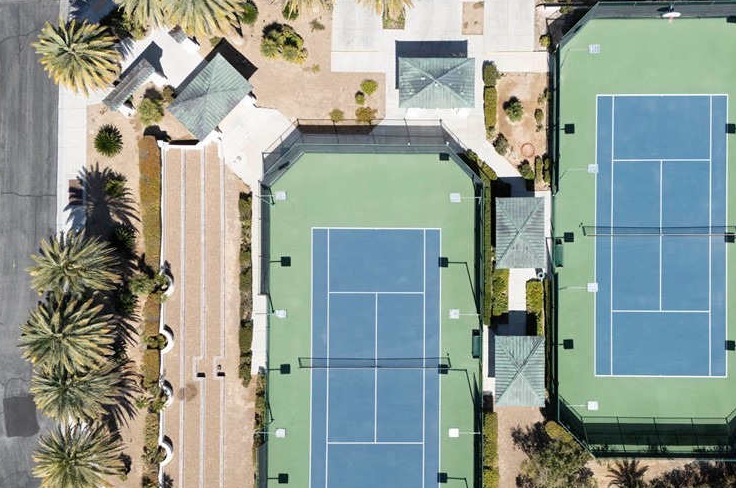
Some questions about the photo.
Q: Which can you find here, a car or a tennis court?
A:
tennis court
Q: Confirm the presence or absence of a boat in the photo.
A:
No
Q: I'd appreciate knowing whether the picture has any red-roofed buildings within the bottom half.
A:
No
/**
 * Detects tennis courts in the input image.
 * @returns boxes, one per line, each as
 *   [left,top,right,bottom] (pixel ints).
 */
[266,153,481,488]
[552,15,736,454]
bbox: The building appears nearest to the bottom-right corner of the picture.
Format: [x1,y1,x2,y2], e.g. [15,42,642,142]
[494,336,546,407]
